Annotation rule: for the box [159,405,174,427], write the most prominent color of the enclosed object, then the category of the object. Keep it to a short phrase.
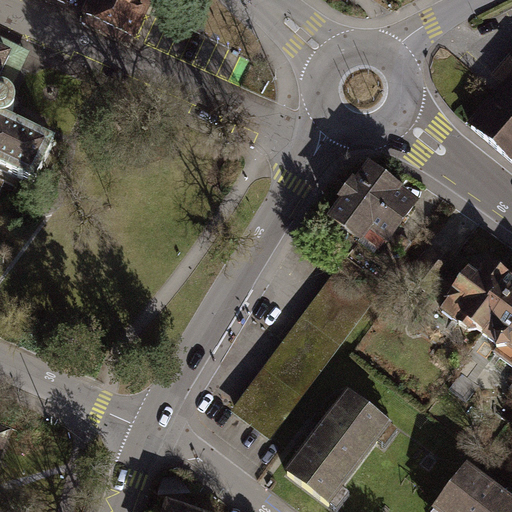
white car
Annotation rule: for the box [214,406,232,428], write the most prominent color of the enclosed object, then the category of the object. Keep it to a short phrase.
black car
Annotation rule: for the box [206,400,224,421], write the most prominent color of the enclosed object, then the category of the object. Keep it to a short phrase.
black car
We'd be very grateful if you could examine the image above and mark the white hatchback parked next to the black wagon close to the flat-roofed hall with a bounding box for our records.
[265,306,282,326]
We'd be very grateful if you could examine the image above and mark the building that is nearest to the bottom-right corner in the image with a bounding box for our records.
[431,460,512,512]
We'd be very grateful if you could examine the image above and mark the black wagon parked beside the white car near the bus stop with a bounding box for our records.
[254,300,272,322]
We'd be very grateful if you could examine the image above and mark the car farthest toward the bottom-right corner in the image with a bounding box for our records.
[260,443,278,465]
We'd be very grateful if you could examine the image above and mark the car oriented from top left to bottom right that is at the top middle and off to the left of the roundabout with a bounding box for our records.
[196,107,218,124]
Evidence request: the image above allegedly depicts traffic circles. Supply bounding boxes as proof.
[302,28,425,150]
